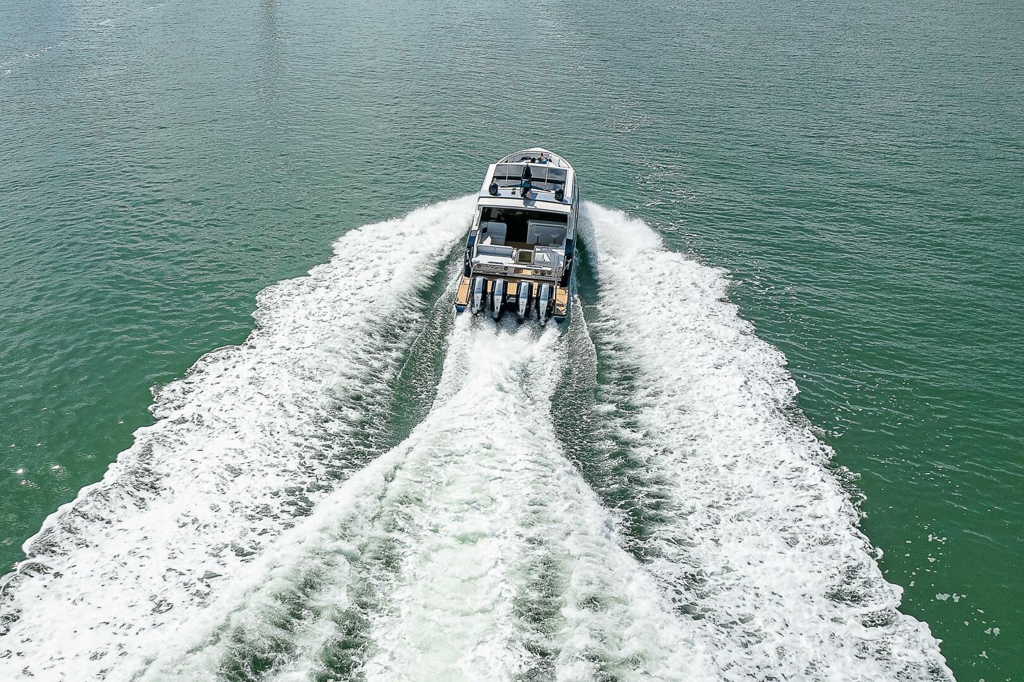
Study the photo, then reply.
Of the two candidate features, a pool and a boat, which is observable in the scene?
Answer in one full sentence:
Looking from above, you can make out a boat.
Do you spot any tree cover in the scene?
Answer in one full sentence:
No, the picture contains no tree cover.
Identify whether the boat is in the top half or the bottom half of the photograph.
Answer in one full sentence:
It is in the top half that the boat appears.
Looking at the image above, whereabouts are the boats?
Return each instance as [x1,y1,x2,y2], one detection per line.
[455,146,579,328]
